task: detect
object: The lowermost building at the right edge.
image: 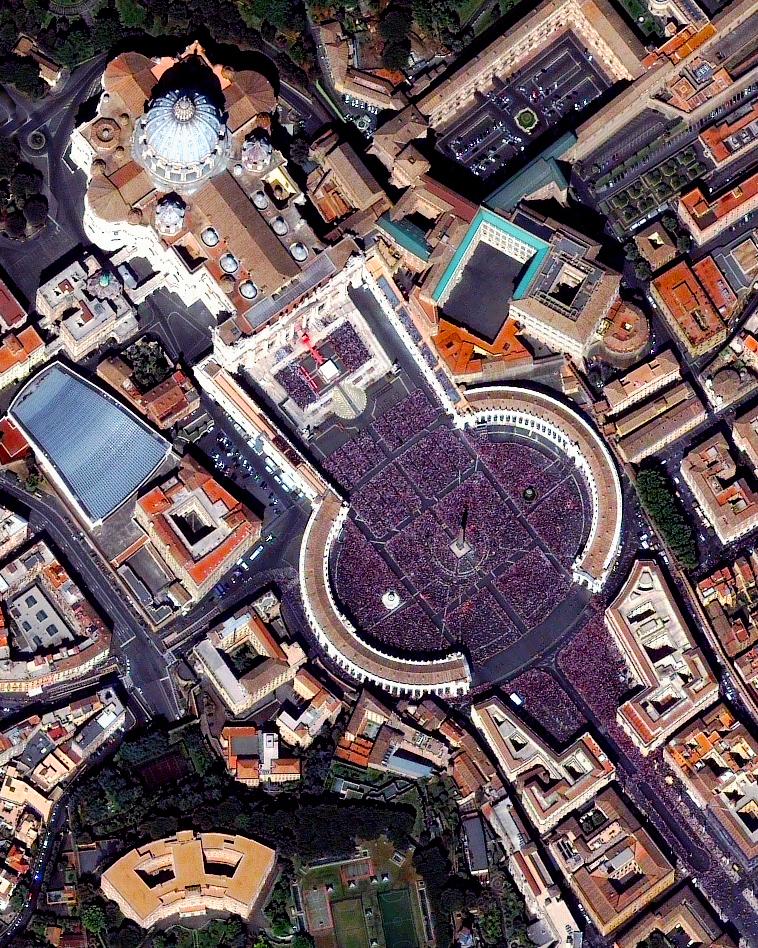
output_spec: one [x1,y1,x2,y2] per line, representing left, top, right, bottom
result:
[615,884,740,948]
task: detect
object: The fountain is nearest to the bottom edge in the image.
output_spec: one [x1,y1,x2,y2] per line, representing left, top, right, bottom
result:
[381,592,402,610]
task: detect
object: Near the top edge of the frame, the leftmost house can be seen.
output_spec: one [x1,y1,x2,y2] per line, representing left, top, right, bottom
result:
[12,32,63,89]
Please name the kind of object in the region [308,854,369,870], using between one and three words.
shed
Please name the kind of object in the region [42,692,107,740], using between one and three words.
house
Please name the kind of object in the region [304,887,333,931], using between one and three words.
basketball court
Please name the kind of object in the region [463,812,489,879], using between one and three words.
building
